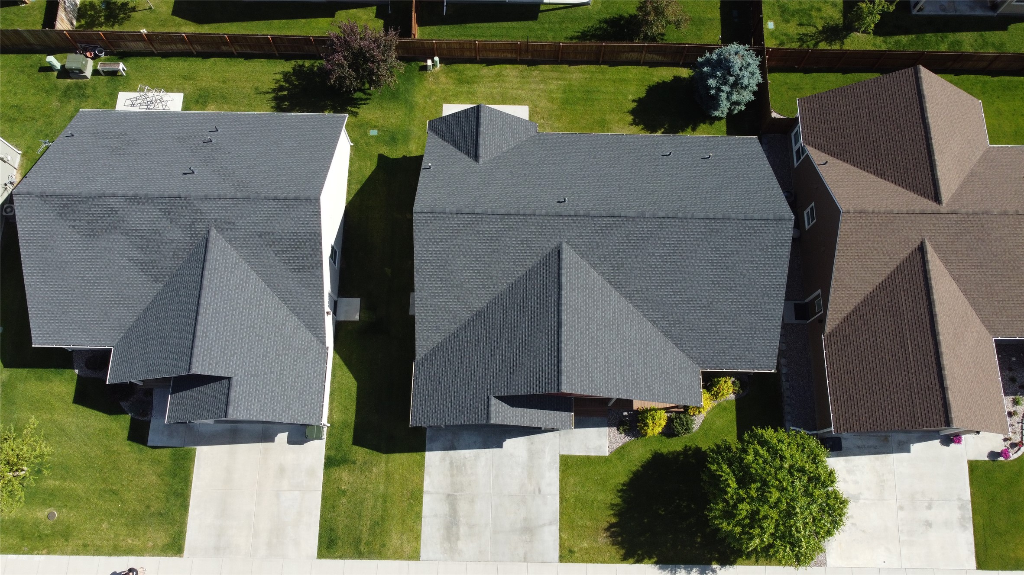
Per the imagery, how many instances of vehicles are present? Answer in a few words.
none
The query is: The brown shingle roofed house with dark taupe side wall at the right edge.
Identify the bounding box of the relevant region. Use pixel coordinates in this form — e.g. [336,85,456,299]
[789,63,1024,438]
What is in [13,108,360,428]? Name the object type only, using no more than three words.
house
